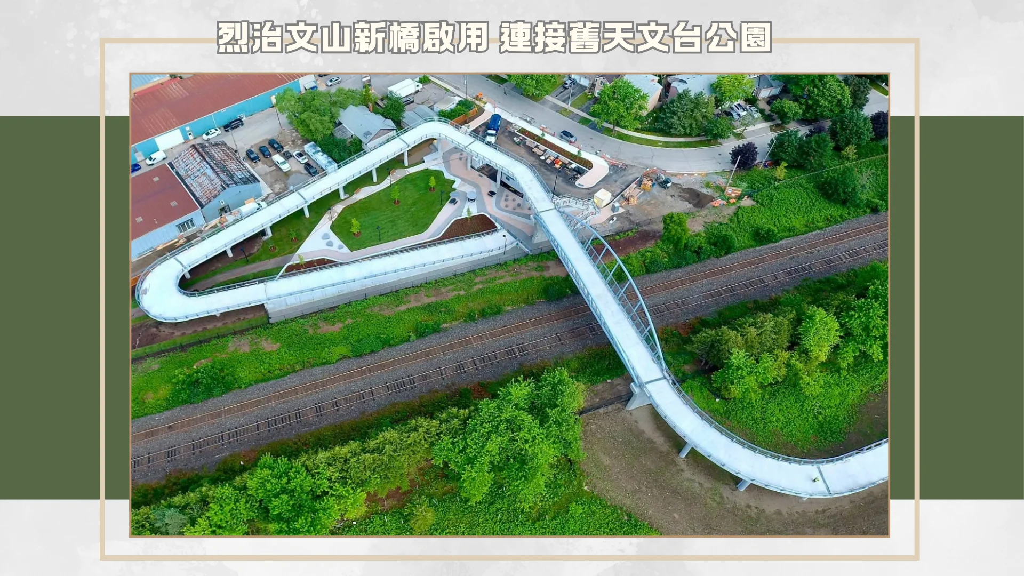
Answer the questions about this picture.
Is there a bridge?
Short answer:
Yes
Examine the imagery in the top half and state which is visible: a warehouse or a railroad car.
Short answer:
warehouse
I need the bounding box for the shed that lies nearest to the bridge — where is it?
[595,186,617,209]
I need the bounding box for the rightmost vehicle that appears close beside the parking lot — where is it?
[653,164,673,186]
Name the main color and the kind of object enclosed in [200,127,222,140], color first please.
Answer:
white vehicle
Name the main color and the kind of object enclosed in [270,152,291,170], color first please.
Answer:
white vehicle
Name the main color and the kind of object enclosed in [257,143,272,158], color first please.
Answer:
blue car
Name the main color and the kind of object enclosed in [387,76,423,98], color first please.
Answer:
white truck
